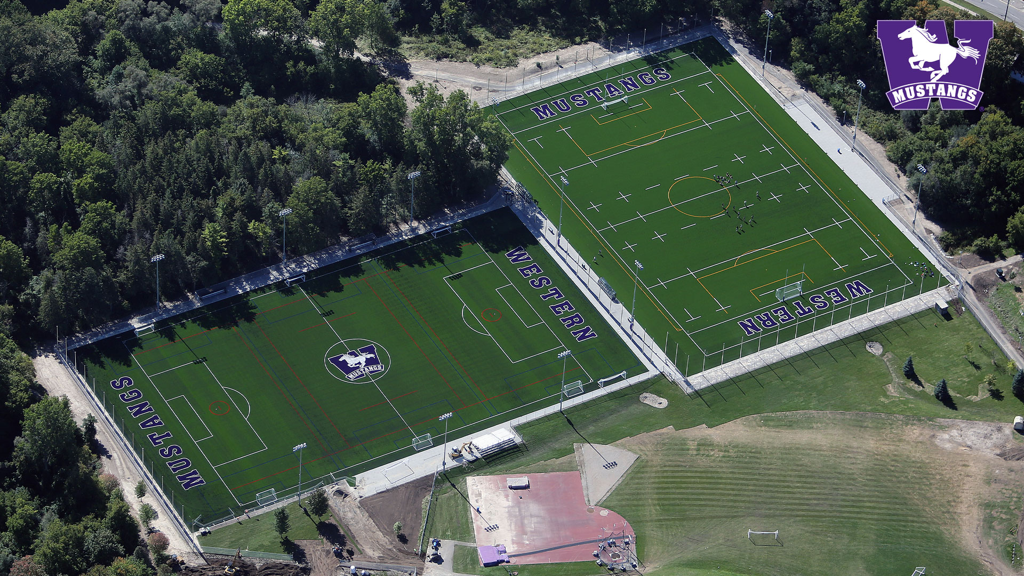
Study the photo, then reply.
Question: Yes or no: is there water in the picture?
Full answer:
No, water can't be seen anywhere here.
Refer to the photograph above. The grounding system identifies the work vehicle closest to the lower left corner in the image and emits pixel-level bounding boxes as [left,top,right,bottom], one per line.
[168,553,189,567]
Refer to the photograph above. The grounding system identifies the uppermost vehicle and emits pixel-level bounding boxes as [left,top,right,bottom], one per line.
[449,441,469,462]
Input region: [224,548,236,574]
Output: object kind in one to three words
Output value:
vehicle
